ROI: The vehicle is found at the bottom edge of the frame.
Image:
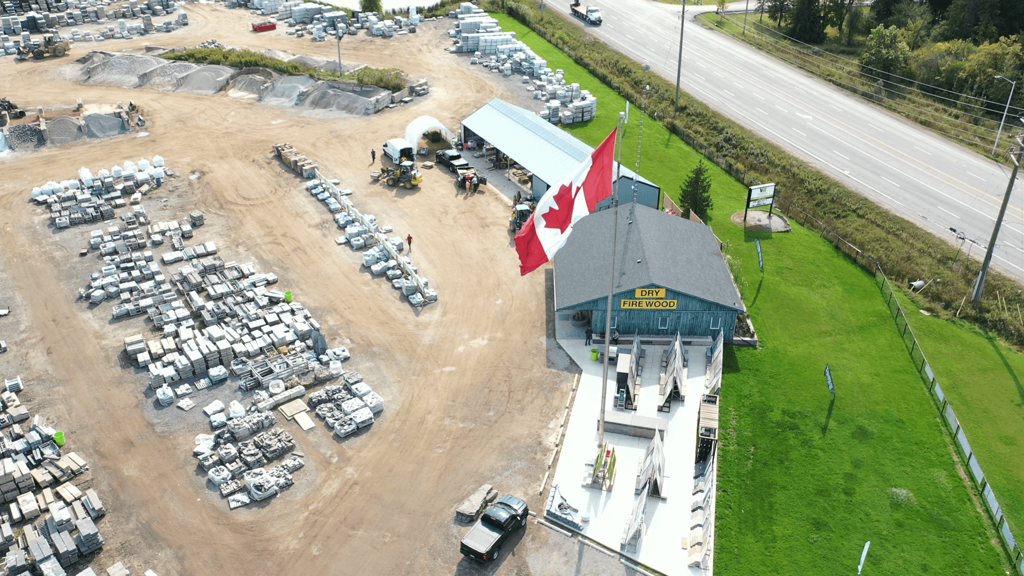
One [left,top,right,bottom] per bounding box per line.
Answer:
[461,497,532,565]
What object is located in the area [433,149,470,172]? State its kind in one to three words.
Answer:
truck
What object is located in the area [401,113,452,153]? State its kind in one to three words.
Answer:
tent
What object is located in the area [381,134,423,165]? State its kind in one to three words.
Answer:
van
